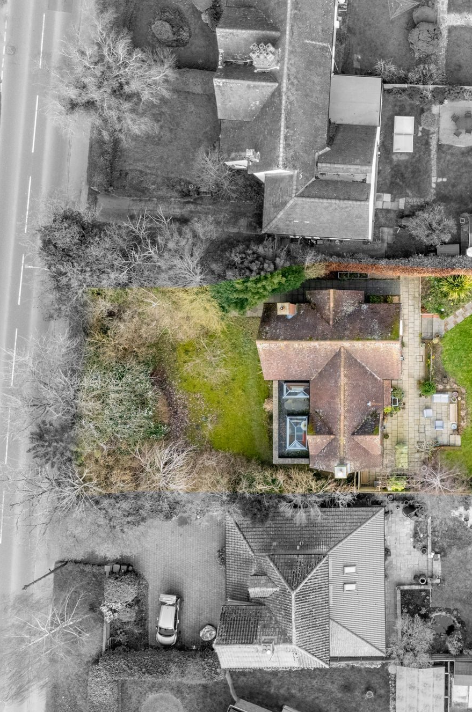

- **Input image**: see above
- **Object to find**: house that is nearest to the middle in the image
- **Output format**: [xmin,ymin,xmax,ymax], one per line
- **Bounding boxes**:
[256,289,404,478]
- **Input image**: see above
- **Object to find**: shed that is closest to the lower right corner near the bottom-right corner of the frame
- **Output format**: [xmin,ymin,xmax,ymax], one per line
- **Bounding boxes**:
[453,667,472,686]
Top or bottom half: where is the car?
bottom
